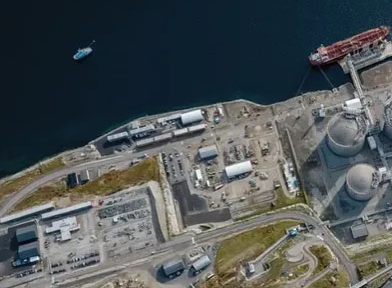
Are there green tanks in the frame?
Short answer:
No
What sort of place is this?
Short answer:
port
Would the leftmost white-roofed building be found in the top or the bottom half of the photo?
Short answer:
bottom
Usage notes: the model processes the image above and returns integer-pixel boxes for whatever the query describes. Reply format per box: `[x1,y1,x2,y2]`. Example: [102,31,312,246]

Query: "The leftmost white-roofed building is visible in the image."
[0,203,56,225]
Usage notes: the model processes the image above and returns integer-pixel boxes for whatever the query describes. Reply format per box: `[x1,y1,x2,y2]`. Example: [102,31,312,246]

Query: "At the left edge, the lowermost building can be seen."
[15,241,40,261]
